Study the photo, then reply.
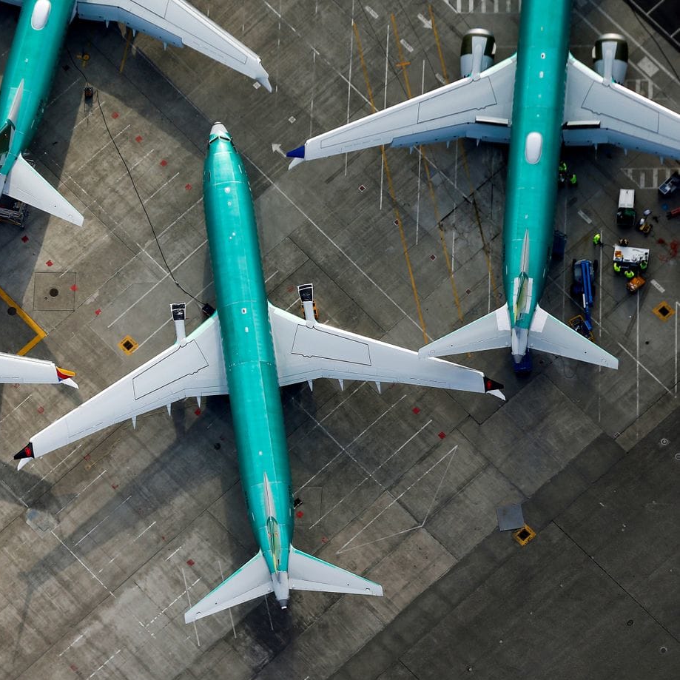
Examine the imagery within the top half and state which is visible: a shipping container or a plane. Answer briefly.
plane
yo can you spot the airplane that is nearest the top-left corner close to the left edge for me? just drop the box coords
[0,0,269,222]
